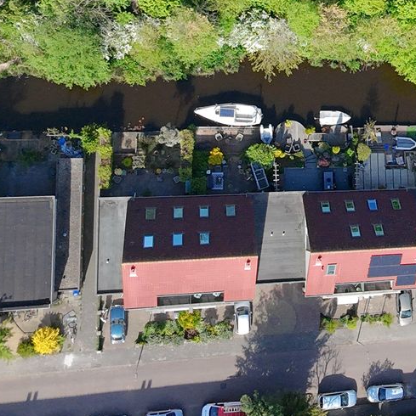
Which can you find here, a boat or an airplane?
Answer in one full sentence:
This aerial view contains a boat.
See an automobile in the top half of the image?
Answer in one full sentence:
No, looking in the top half of the image, there is no automobile.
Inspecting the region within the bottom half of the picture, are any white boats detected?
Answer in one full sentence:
No, I see no white boat within the bottom half of the picture.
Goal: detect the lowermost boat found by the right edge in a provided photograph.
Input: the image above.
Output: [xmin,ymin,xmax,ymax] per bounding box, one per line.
[394,136,416,149]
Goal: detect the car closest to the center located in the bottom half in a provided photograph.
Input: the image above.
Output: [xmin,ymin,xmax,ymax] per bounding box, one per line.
[233,300,252,337]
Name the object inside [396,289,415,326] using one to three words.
car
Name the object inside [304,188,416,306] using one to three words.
house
